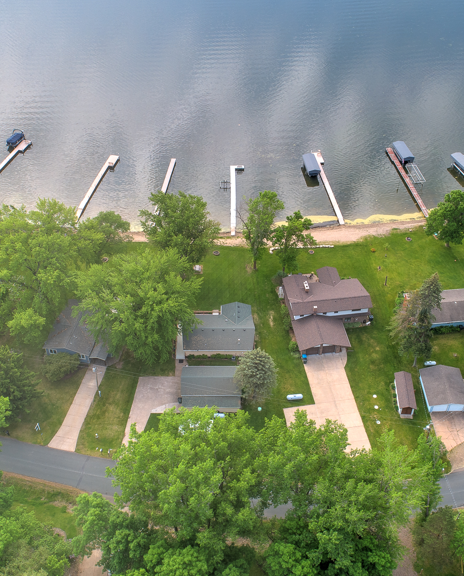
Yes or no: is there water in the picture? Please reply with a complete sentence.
Yes, there's water in this view.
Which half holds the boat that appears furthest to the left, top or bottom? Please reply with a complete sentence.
It is in the top half that the boat that appears furthest to the left appears.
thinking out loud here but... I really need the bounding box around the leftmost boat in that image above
[3,126,28,147]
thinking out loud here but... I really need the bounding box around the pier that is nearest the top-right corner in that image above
[386,146,424,210]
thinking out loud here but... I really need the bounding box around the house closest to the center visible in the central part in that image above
[174,297,254,361]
